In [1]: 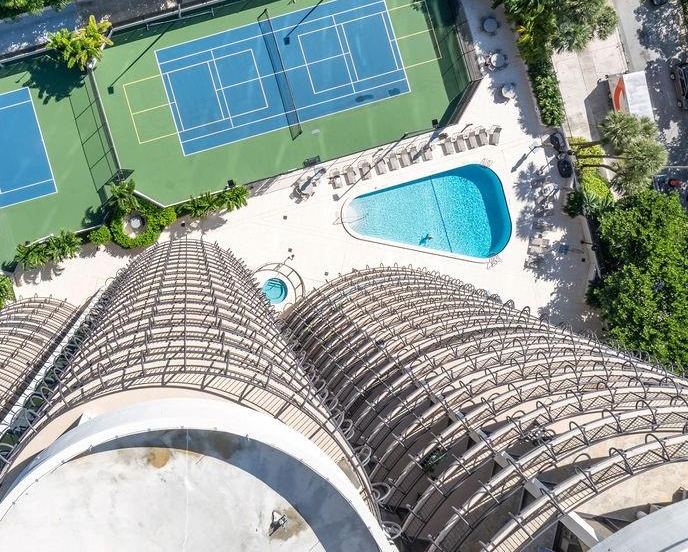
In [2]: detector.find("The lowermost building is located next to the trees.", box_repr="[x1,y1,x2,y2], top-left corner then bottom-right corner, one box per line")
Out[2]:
[0,231,688,552]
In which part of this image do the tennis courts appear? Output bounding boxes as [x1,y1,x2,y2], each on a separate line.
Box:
[92,0,481,206]
[0,44,123,277]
